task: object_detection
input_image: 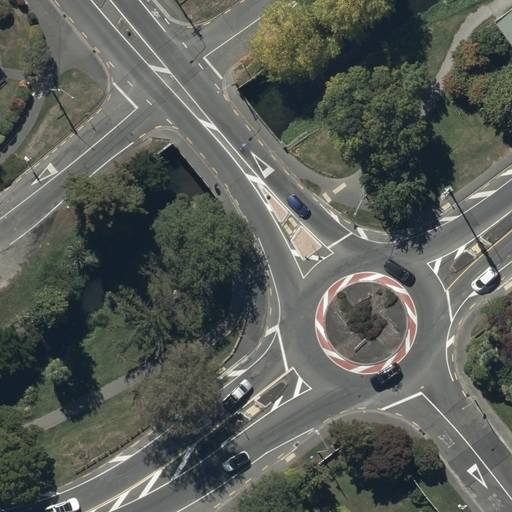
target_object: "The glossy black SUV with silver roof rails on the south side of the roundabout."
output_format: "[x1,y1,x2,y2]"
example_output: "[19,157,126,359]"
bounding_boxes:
[372,364,402,388]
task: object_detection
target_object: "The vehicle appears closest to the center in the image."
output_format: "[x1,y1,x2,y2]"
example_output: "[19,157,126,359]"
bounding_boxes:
[288,192,311,220]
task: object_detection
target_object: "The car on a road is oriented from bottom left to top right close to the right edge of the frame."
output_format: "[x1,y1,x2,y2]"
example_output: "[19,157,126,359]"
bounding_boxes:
[470,266,498,292]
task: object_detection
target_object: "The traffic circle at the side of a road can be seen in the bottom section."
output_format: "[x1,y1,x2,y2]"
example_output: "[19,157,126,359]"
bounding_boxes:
[316,272,418,374]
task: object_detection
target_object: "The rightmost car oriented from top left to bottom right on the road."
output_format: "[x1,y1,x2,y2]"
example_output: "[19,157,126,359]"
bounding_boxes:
[384,259,415,286]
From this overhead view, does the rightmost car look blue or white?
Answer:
white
